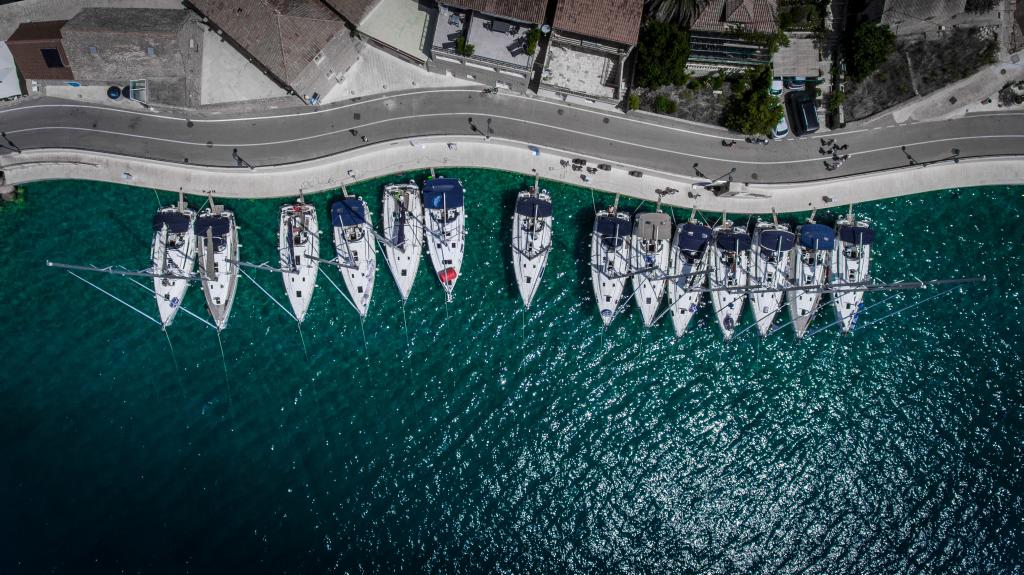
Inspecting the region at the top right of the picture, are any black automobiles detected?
Yes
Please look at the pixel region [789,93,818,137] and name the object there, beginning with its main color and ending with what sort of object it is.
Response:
black car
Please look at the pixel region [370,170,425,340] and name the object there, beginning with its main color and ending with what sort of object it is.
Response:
white boat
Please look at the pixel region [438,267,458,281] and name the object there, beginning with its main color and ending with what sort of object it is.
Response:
red boat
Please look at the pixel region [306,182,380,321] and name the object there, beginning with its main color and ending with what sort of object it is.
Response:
white boat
